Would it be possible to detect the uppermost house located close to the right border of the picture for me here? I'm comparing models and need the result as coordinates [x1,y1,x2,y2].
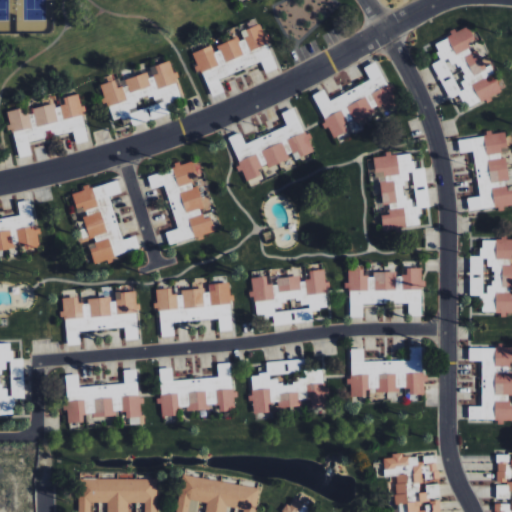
[424,27,504,109]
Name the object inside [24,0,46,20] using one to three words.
tennis court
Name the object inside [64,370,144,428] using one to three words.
house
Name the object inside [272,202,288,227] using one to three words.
swimming pool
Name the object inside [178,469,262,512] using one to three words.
house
